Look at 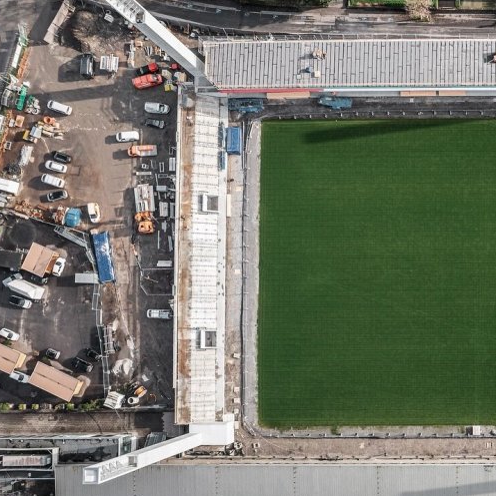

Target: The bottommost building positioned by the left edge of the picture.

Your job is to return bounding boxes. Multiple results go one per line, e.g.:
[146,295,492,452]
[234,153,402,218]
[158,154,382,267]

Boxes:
[0,436,143,463]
